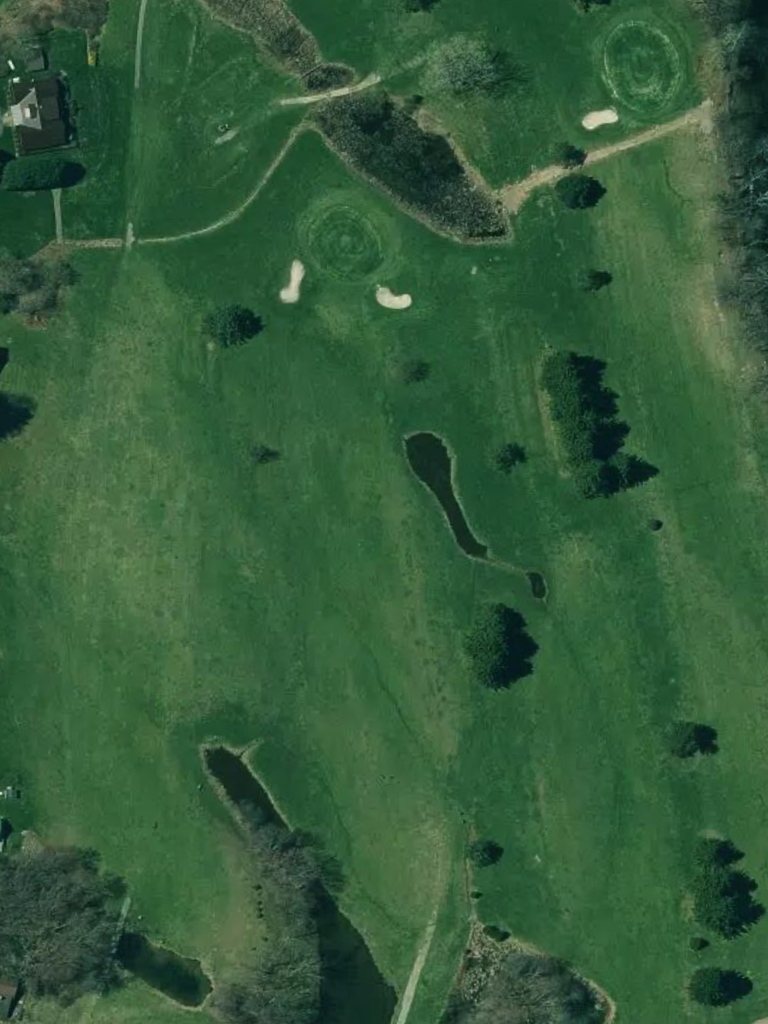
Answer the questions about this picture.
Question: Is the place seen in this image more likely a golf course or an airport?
golf course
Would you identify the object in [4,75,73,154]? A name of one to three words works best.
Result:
house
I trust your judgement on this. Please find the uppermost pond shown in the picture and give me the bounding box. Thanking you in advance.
[405,432,489,557]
